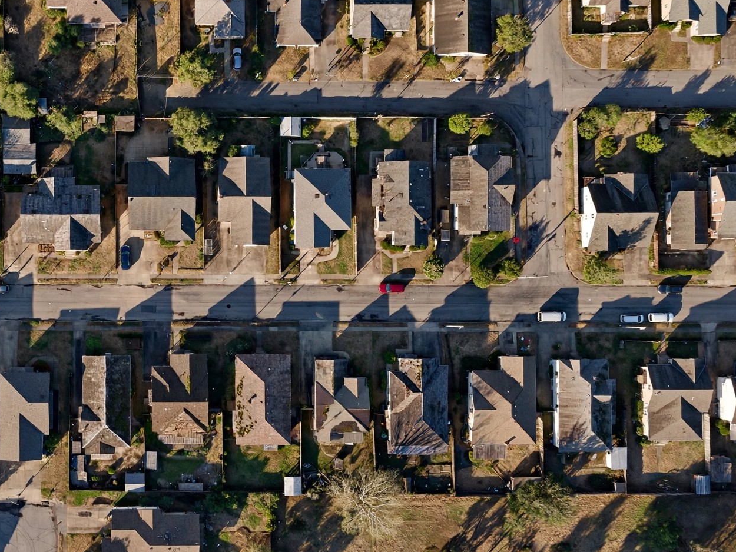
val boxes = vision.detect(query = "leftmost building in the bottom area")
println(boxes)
[0,371,58,464]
